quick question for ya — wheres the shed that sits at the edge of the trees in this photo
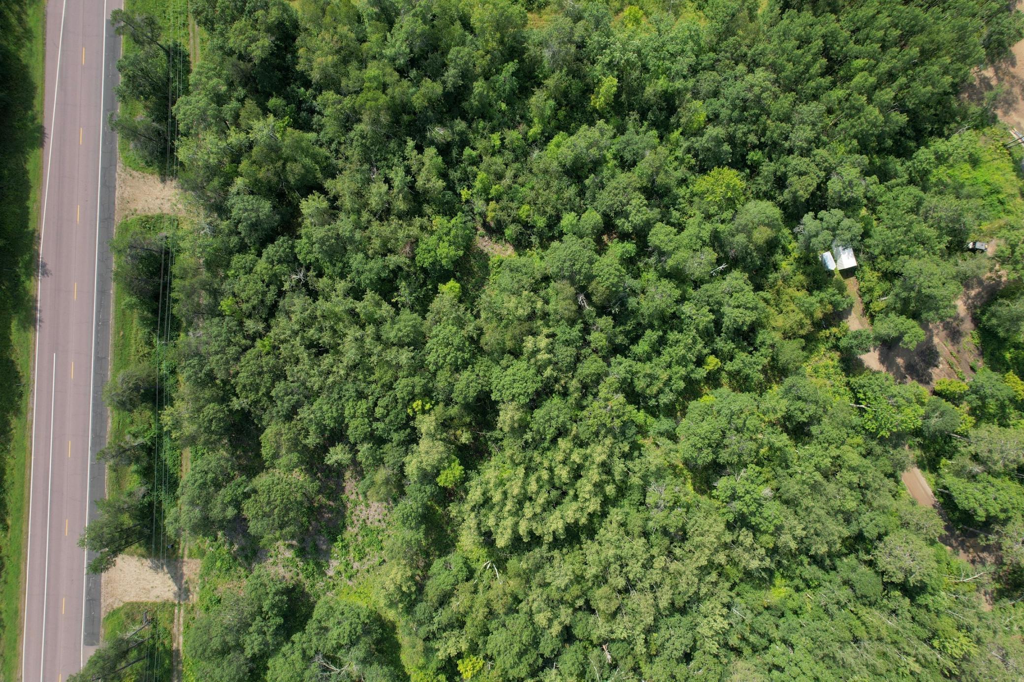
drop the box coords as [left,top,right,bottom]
[827,240,858,273]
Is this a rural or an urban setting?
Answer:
rural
